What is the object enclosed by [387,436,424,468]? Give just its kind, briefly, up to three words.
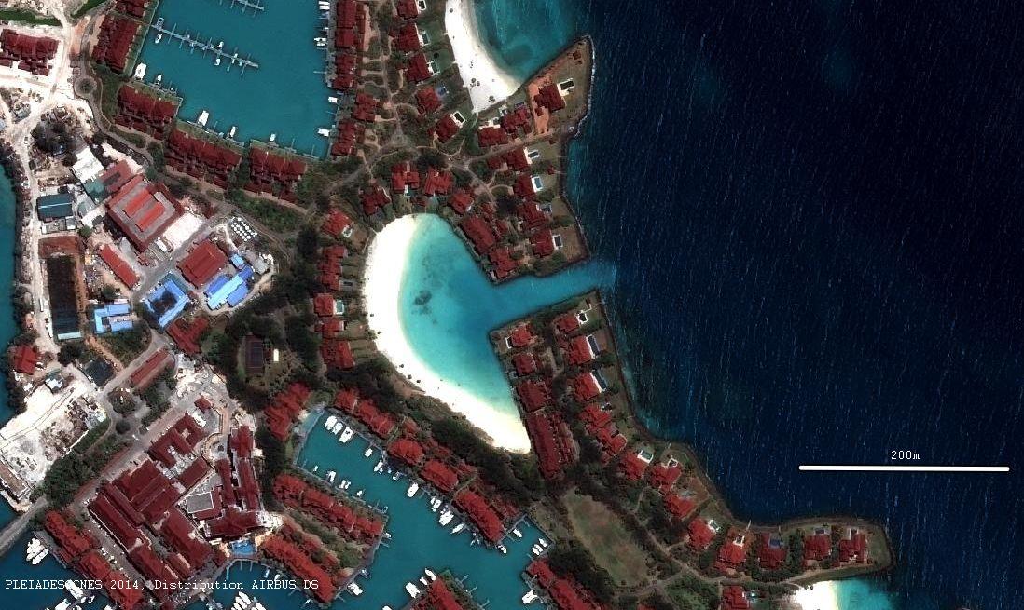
house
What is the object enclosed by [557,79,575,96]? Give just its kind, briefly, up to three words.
swimming pool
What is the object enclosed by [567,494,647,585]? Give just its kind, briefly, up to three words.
sports field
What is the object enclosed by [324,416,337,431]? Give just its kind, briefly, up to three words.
boat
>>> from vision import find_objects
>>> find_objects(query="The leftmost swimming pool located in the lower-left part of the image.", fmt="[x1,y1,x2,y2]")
[228,539,258,560]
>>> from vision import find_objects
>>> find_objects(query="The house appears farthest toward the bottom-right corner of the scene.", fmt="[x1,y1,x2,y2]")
[836,533,870,566]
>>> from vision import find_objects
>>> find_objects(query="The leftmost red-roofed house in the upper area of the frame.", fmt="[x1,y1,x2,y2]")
[0,27,59,77]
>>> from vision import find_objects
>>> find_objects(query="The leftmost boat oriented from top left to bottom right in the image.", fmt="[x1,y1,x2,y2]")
[66,582,85,600]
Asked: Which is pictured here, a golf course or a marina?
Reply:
marina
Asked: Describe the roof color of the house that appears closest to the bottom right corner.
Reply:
red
